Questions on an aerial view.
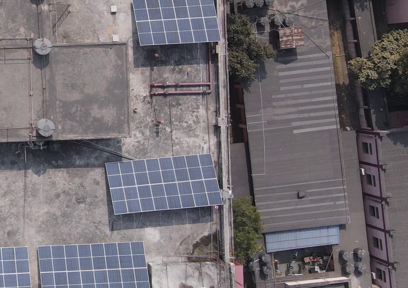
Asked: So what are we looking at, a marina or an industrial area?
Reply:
industrial area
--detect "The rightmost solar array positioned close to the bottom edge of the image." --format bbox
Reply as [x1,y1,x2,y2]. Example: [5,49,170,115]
[37,242,150,288]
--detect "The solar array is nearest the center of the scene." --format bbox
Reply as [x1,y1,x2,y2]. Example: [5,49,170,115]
[105,154,222,215]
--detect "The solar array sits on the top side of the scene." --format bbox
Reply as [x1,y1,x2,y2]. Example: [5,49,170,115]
[132,0,220,45]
